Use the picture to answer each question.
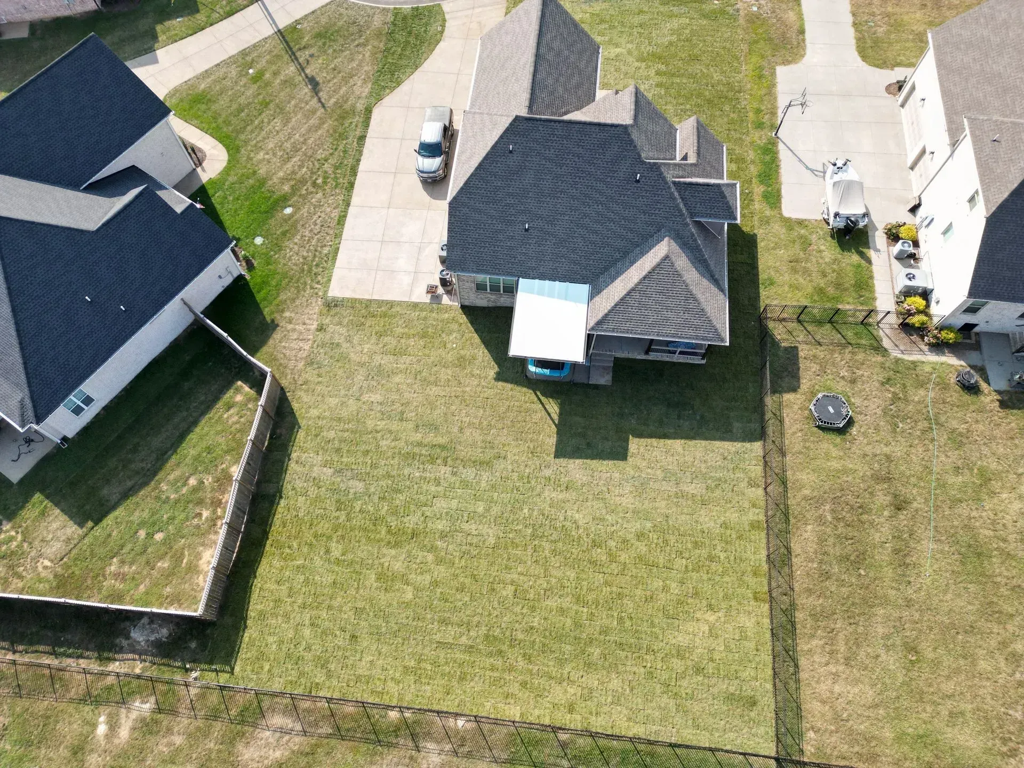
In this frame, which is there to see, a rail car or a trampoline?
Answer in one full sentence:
Of the two, only a trampoline appears.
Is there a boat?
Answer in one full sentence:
Yes, the photo shows a boat.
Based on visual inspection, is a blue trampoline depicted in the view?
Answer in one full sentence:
Yes, a blue trampoline can be made out from above.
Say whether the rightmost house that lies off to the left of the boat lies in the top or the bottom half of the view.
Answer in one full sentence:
The rightmost house that lies off to the left of the boat sits in the top half of the picture.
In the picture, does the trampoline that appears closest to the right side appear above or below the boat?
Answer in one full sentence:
In the image, the trampoline that appears closest to the right side sits below the boat.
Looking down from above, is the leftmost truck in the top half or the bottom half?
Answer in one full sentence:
You can find the leftmost truck in the top half.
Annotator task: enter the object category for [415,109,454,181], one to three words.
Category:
truck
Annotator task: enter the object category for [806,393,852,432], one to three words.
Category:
trampoline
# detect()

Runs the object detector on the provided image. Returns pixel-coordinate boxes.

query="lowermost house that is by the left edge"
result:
[0,33,253,446]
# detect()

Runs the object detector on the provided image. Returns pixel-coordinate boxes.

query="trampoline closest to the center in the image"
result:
[533,361,570,380]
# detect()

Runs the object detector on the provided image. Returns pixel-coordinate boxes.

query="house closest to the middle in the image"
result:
[445,0,743,385]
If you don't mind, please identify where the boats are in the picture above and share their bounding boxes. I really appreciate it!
[832,162,874,254]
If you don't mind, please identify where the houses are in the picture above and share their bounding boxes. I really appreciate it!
[894,0,1024,333]
[0,0,98,23]
[0,33,253,446]
[445,0,743,385]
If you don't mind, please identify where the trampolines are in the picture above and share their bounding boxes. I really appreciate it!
[533,361,570,380]
[806,393,852,432]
